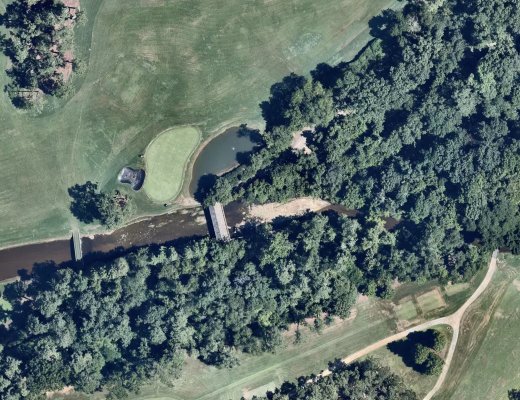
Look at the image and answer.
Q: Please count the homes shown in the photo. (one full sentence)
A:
I count no homes.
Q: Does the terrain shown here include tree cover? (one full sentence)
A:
Yes, some tree cover is visible.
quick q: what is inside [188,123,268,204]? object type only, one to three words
pond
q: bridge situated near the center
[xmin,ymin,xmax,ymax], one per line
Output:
[206,198,231,245]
